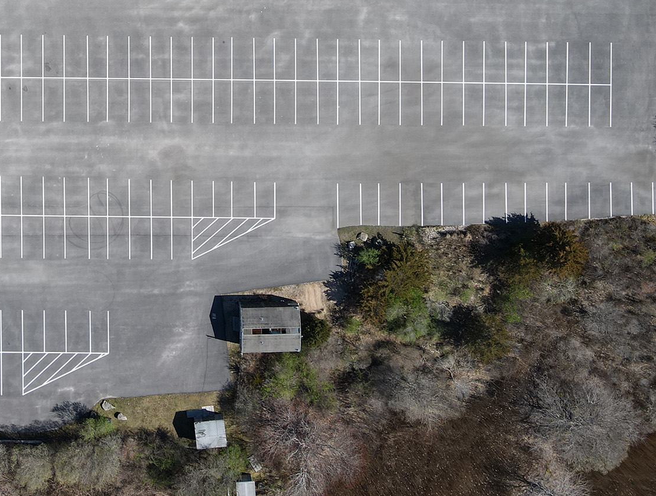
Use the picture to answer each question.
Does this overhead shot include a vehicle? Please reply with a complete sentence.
No, there appears to be no vehicle in this shot.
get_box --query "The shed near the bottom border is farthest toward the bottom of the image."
[234,471,256,496]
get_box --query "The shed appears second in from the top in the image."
[194,401,226,449]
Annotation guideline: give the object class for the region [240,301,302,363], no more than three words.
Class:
shed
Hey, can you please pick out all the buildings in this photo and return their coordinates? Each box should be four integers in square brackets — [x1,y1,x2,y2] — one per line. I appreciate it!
[194,401,226,449]
[240,301,302,363]
[234,471,256,496]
